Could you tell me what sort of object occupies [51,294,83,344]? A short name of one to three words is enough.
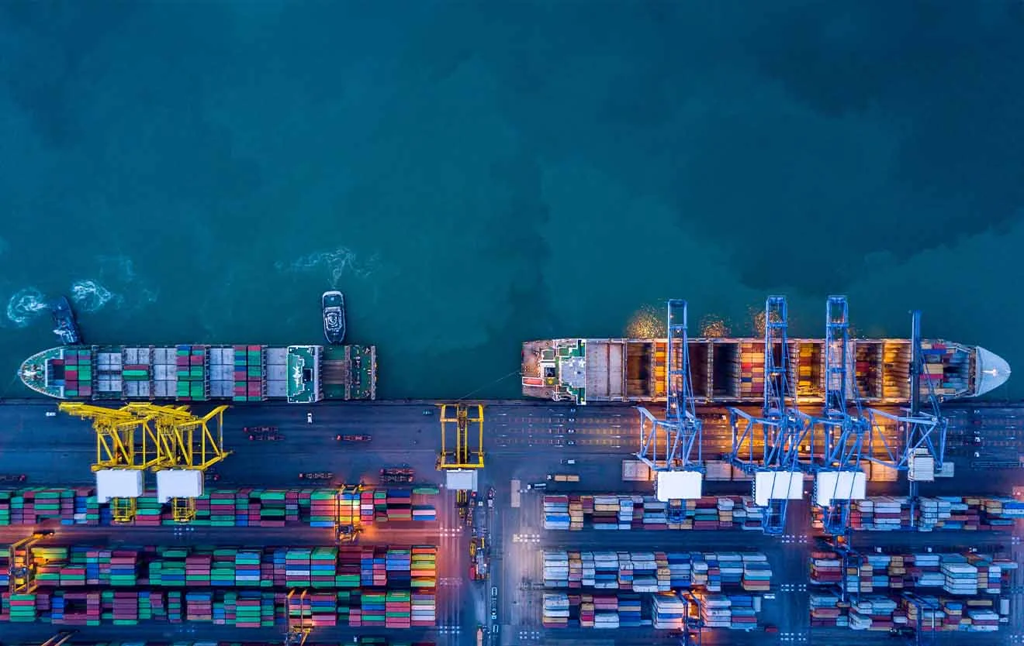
boat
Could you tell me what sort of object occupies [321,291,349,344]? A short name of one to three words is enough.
boat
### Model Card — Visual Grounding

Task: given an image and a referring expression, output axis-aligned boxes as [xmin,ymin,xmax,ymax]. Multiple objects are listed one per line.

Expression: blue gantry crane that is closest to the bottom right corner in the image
[894,586,938,646]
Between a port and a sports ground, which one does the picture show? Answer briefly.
port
